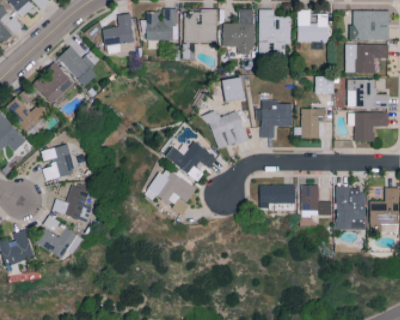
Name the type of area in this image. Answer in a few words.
residential area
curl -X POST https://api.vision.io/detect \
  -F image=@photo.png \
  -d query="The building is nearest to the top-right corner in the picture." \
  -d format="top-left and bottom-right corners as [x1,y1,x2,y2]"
[349,11,390,41]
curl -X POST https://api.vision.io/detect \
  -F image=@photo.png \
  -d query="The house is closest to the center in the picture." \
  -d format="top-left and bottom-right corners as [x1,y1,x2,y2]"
[167,141,218,182]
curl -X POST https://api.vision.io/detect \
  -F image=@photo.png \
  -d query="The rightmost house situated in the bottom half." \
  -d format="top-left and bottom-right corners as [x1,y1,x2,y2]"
[370,188,400,234]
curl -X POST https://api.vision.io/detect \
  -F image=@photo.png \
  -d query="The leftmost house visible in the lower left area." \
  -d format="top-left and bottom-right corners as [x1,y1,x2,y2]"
[0,229,34,266]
